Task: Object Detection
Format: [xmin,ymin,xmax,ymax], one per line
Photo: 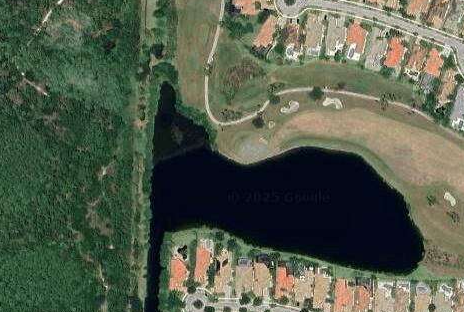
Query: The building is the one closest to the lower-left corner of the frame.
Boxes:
[166,259,187,290]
